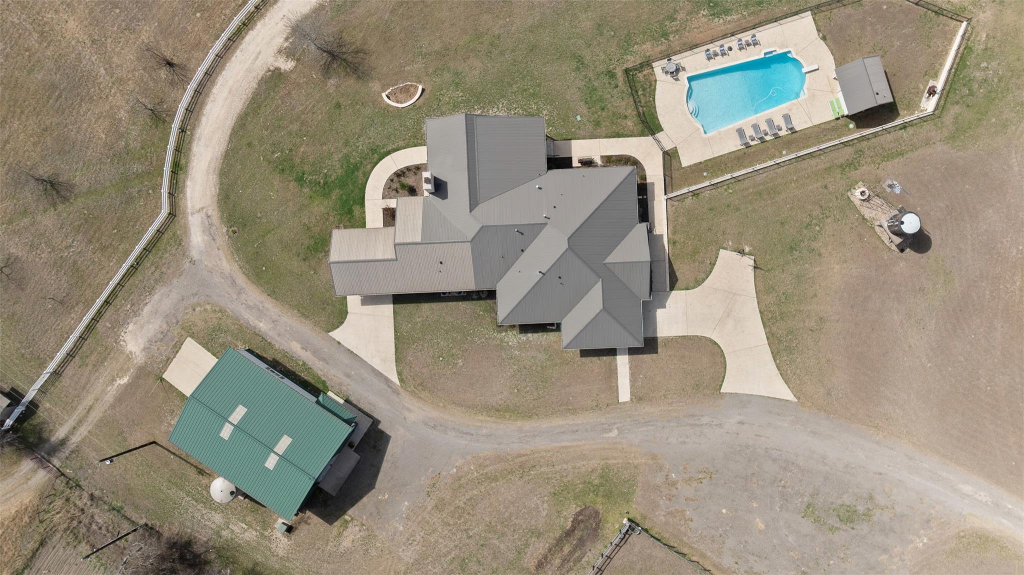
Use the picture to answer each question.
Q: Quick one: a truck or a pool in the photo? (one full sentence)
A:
There is a pool in the scene.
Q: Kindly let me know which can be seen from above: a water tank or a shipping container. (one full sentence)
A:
It is a water tank that can be seen here.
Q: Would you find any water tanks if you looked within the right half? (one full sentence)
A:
Yes, a water tank can be seen within the right half.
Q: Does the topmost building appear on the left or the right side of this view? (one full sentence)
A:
The topmost building appears in the right half of the scene.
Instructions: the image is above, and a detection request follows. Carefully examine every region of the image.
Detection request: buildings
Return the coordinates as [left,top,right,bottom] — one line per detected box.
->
[826,56,894,118]
[167,345,357,523]
[327,113,652,351]
[0,379,31,422]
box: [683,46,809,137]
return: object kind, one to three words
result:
swimming pool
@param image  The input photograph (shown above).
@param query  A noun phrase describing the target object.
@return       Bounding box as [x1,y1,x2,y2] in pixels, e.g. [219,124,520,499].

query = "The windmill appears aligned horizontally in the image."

[852,175,914,202]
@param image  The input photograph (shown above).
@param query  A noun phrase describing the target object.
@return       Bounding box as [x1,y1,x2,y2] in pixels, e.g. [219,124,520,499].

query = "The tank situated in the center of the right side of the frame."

[870,206,922,251]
